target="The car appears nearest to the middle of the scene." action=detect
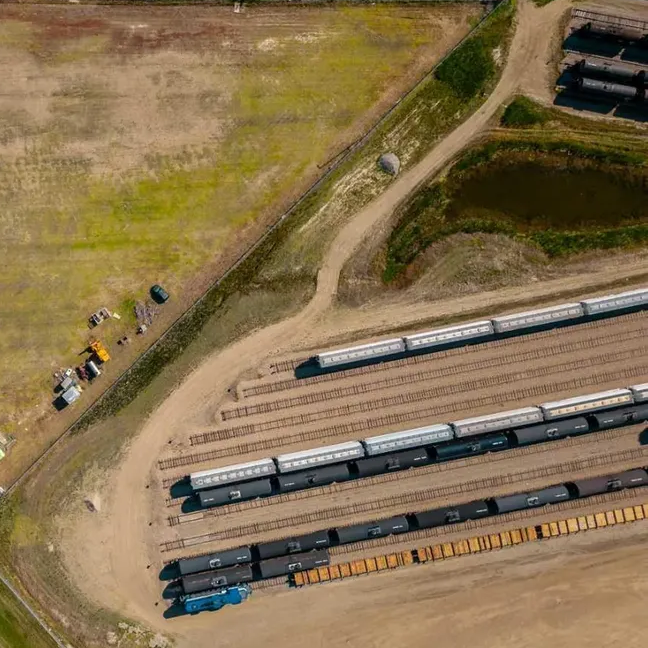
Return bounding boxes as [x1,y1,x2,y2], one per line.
[150,283,170,305]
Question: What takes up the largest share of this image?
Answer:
paved ground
